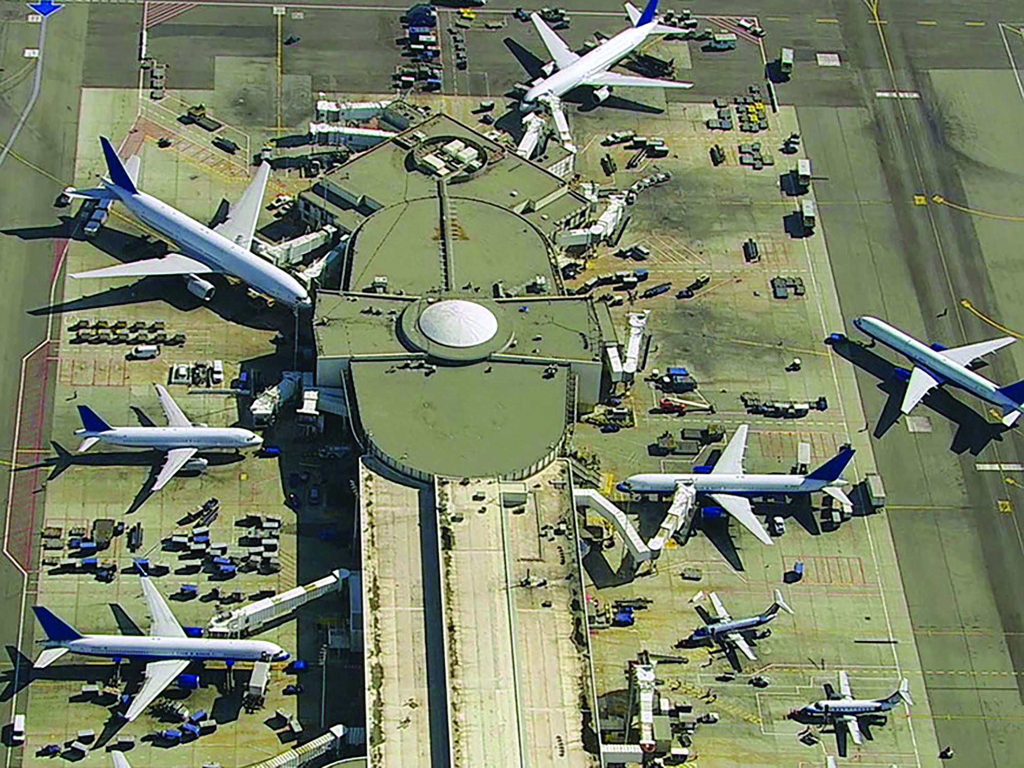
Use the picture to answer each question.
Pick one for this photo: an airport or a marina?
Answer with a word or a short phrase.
airport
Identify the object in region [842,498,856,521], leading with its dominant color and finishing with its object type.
white vehicle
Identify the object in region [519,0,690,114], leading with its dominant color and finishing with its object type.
white airplane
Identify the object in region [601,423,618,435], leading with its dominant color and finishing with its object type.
black vehicle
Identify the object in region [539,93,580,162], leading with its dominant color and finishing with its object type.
white jet bridge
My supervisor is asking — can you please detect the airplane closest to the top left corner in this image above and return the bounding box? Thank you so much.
[64,133,311,307]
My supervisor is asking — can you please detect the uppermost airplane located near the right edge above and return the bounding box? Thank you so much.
[853,318,1024,429]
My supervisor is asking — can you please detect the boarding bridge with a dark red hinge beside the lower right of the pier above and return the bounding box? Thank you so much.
[600,665,660,768]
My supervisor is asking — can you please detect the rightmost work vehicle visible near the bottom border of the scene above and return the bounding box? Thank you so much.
[936,748,955,763]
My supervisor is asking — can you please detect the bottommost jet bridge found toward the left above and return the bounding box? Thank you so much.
[240,721,364,768]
